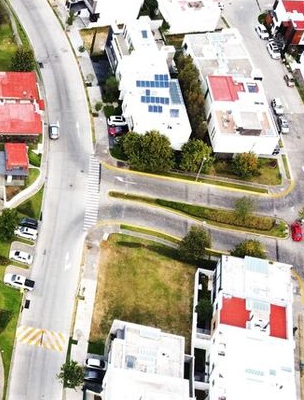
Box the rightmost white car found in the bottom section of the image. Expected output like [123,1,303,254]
[83,356,103,370]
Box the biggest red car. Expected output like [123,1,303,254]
[290,222,302,241]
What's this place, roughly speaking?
residential area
